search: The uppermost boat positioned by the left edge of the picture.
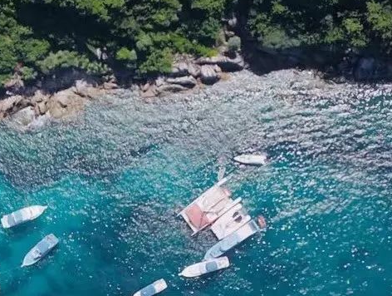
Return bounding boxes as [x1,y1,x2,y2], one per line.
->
[0,205,48,229]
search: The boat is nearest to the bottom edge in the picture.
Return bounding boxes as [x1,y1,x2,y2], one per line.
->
[133,278,169,296]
